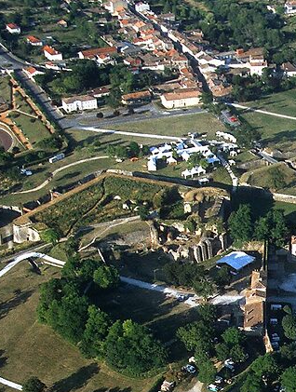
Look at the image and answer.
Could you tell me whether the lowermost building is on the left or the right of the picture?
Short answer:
right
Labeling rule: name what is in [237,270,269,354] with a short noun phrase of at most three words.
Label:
building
